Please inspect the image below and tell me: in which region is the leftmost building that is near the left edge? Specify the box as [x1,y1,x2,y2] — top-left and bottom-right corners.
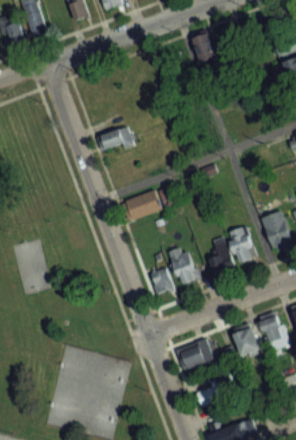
[0,15,24,41]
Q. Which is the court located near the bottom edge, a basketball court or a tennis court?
basketball court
